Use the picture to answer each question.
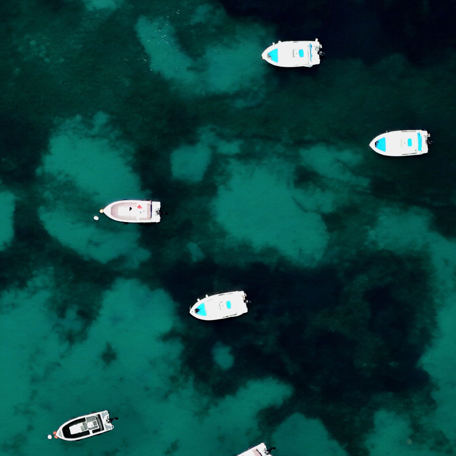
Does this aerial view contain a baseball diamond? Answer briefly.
No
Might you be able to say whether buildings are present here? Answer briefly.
No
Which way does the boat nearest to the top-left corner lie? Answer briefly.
from left to right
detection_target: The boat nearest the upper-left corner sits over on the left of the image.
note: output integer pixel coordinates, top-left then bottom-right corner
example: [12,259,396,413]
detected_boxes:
[103,200,167,222]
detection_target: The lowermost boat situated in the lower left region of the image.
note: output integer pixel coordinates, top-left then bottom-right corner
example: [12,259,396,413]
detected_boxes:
[55,411,117,440]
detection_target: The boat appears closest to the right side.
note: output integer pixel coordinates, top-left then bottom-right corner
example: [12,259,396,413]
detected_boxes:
[369,131,433,156]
